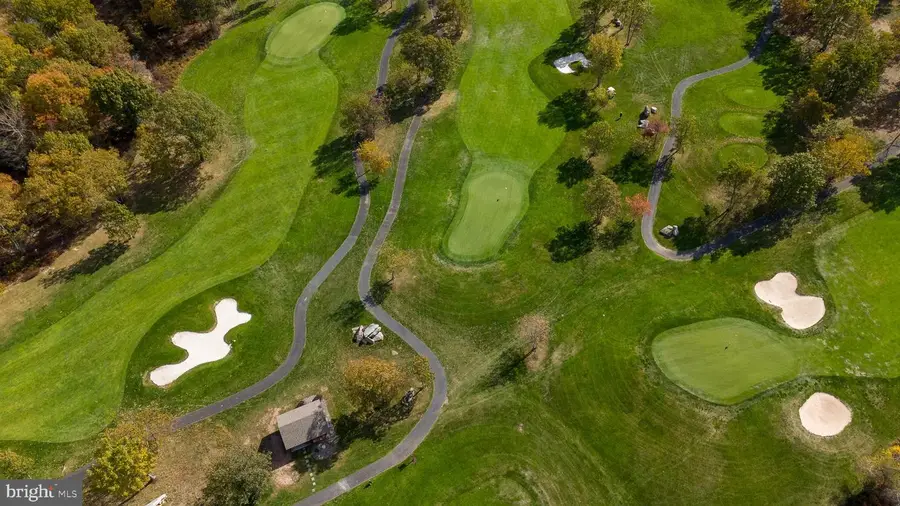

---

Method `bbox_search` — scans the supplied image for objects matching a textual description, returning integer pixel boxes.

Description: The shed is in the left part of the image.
[277,399,343,456]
